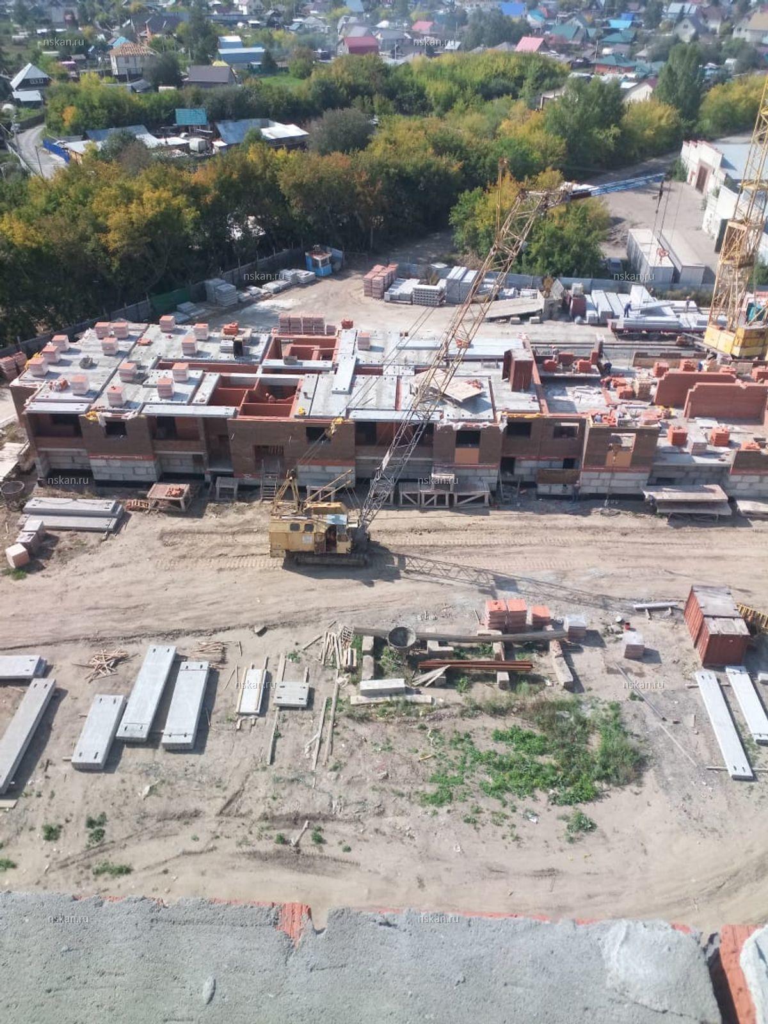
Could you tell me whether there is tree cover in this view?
Yes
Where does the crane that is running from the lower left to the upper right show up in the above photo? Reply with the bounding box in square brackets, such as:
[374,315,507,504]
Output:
[267,158,668,573]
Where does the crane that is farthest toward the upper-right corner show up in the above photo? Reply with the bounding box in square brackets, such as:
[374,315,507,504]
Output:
[680,92,768,357]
